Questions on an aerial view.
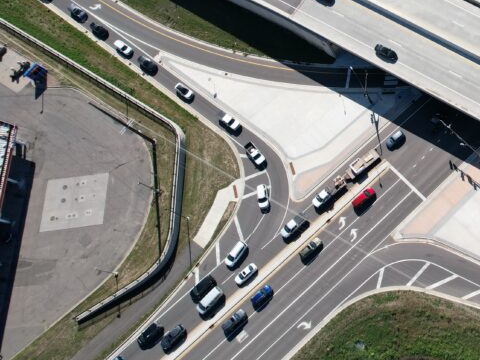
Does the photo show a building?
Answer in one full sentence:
No, I find no building anywhere in the image.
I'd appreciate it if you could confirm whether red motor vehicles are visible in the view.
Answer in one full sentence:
Yes, the picture does show a red motor vehicle.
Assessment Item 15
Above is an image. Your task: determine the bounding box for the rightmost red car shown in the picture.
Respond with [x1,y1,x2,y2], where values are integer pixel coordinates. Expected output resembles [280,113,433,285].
[351,186,375,209]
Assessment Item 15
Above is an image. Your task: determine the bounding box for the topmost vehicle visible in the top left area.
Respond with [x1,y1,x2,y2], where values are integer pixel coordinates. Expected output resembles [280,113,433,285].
[68,5,89,21]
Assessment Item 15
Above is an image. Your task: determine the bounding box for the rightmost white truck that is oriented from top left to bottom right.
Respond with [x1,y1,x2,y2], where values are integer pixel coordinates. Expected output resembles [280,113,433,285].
[244,144,266,168]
